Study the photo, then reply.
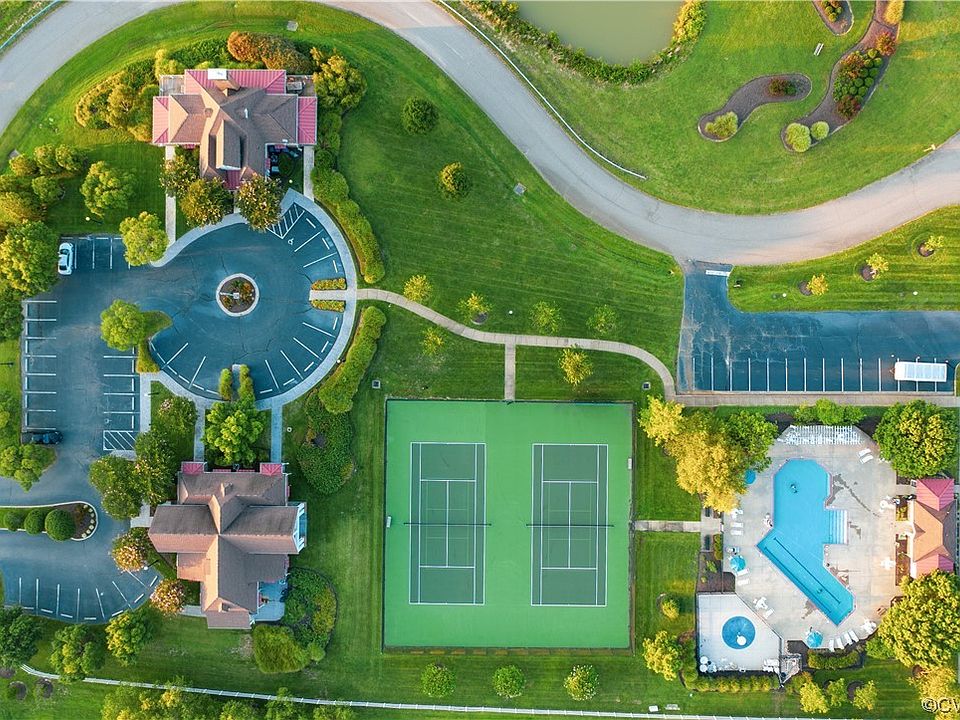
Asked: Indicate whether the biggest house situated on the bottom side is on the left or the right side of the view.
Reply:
left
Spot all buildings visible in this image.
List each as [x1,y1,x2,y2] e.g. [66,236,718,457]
[152,69,320,193]
[146,461,308,631]
[908,478,956,581]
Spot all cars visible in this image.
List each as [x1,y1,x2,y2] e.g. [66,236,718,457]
[31,430,65,445]
[59,243,77,275]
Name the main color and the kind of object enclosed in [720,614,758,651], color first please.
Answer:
blue swimming pool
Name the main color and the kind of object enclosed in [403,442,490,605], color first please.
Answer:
green tennis court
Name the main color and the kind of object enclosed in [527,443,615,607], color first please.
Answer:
green tennis court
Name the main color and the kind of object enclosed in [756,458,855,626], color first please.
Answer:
blue swimming pool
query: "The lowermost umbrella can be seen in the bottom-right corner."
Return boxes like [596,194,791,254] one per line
[804,629,821,646]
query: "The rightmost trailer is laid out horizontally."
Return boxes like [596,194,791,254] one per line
[878,361,948,382]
